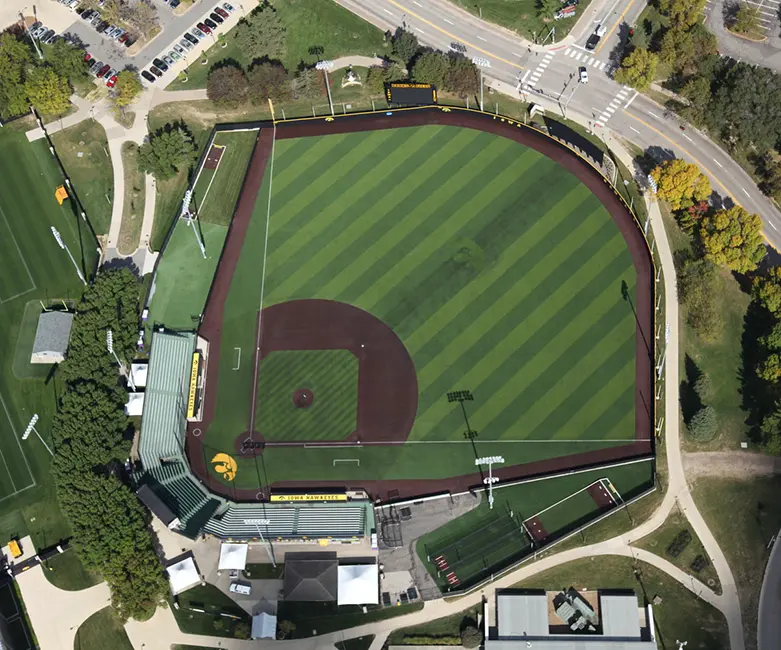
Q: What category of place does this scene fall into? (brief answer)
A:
sports ground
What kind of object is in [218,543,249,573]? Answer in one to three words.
tent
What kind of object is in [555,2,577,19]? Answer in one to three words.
vehicle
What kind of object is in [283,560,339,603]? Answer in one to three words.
building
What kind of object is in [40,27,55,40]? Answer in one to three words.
vehicle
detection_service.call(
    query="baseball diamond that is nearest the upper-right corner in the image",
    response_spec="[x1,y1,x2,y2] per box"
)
[185,112,654,509]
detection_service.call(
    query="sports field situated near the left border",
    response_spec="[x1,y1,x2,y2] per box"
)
[0,111,100,577]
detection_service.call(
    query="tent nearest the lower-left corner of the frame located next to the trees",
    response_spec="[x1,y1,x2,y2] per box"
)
[168,557,201,599]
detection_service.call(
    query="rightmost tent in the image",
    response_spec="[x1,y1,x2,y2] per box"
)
[338,565,378,608]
